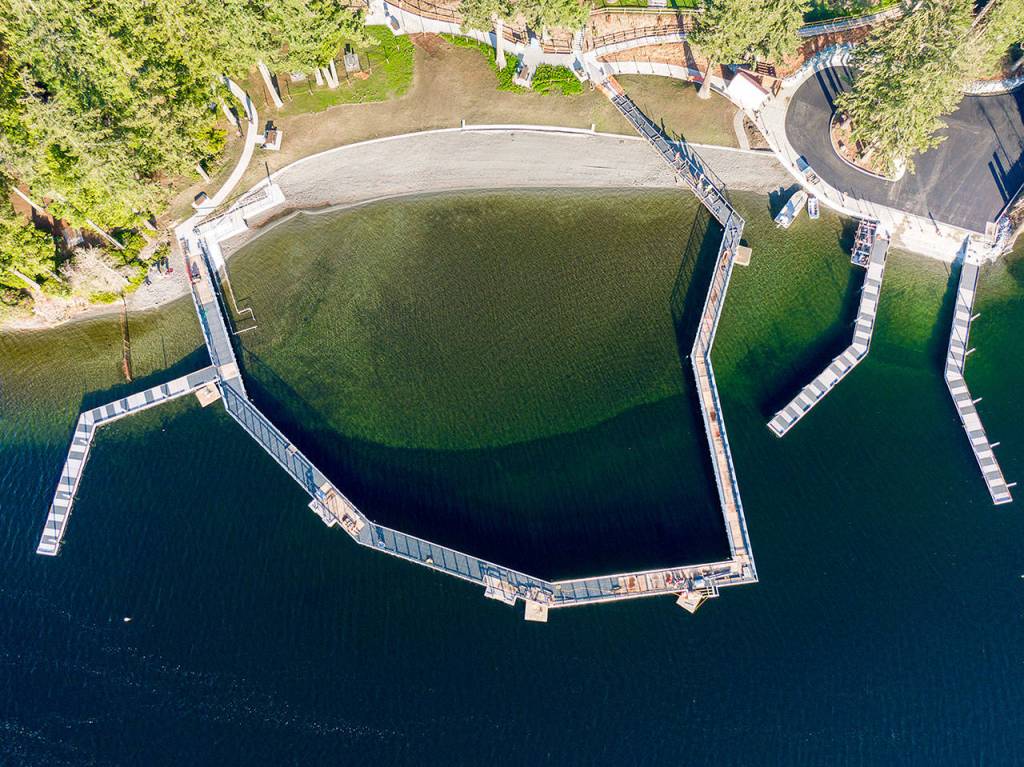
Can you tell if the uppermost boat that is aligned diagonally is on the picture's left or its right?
right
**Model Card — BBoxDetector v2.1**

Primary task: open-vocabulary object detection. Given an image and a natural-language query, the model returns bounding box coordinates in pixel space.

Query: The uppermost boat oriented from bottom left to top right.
[774,188,808,229]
